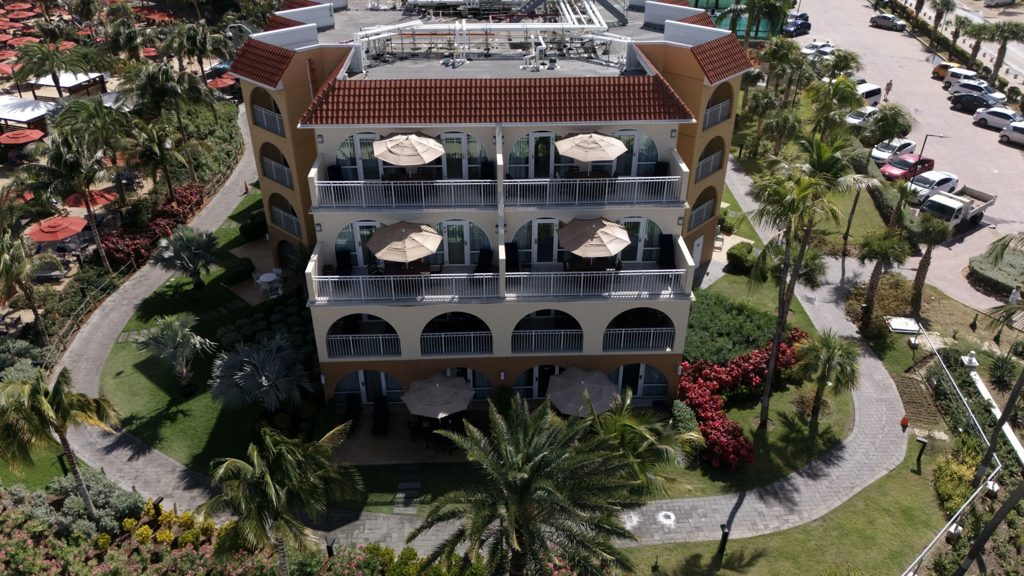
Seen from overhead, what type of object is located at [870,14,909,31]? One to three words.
car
